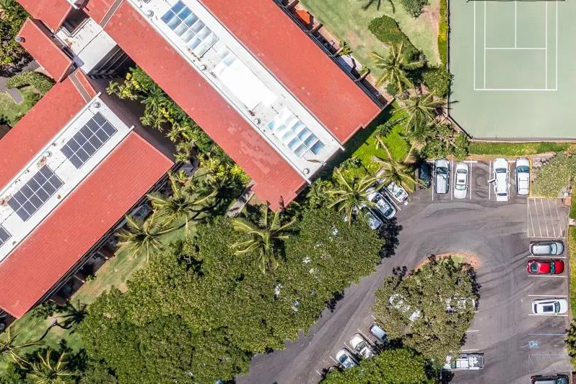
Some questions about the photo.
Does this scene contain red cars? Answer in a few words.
Yes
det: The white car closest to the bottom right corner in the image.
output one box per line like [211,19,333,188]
[531,298,566,317]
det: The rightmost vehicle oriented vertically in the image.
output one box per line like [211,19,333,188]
[513,157,532,196]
